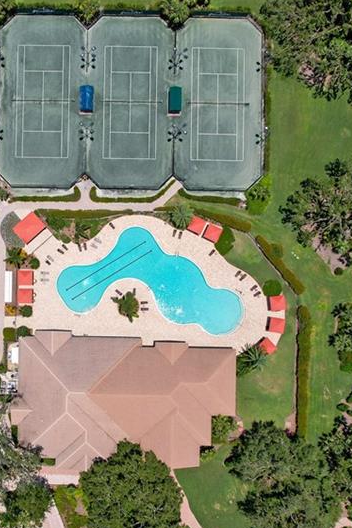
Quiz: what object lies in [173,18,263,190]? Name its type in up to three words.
tennis court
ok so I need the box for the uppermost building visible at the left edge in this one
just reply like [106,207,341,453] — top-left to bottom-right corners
[12,211,47,246]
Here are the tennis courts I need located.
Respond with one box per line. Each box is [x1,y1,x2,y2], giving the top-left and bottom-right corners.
[0,16,87,188]
[86,16,175,189]
[173,18,263,190]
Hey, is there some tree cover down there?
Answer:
Yes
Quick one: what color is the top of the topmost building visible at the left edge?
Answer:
red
